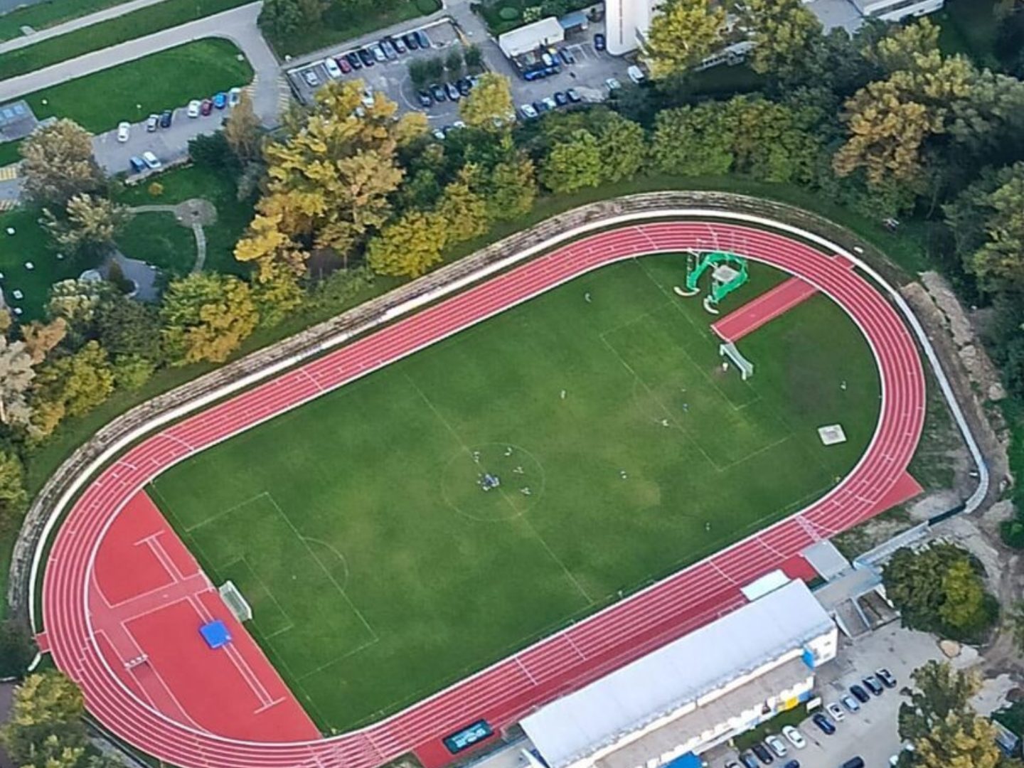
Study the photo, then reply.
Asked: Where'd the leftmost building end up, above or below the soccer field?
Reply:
above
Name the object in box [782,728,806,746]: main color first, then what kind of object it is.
white car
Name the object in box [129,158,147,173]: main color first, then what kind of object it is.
blue car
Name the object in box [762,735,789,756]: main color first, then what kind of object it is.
white car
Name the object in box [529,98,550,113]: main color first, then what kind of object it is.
blue car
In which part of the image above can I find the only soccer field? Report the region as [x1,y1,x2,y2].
[141,250,883,738]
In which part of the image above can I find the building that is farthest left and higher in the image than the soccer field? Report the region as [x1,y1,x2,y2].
[499,17,564,58]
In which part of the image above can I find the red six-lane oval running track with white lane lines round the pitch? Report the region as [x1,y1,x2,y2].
[39,222,925,768]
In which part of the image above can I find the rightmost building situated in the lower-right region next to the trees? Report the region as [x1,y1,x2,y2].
[800,537,901,641]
